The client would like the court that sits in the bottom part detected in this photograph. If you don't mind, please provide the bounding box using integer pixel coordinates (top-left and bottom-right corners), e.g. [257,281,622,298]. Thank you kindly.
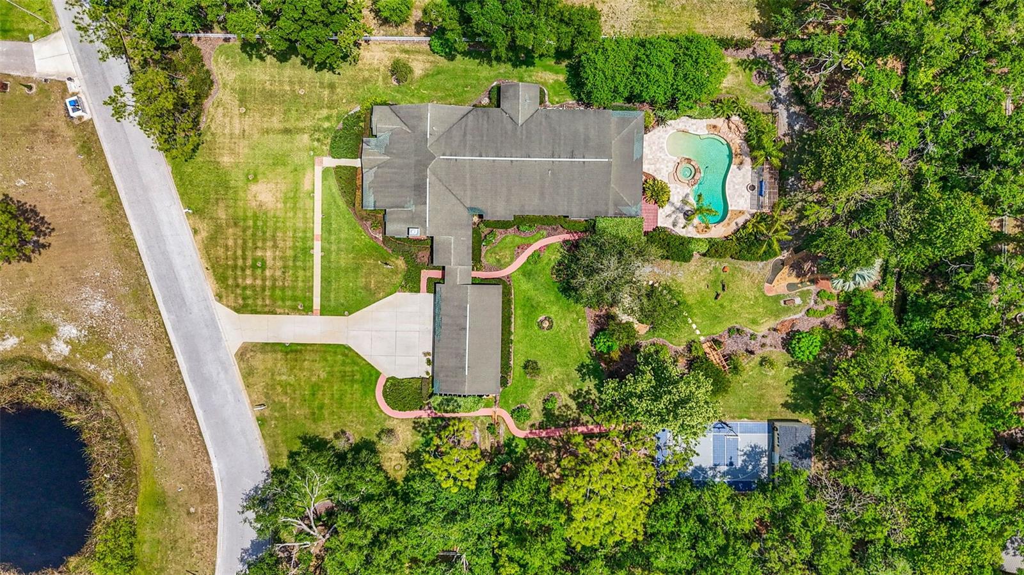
[657,421,773,491]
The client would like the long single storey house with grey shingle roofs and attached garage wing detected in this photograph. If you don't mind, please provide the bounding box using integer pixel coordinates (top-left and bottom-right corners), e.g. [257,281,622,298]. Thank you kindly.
[359,80,644,397]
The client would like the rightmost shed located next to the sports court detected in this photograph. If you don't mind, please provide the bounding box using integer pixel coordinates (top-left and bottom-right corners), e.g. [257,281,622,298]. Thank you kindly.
[773,421,814,476]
